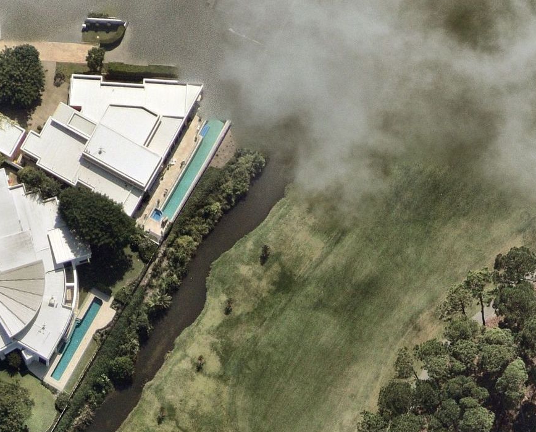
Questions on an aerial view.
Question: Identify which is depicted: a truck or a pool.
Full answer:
The image shows a pool.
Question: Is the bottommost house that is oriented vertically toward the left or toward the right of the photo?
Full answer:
The bottommost house that is oriented vertically is on the left side of the image.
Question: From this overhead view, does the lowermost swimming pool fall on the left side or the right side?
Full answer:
It is on the left.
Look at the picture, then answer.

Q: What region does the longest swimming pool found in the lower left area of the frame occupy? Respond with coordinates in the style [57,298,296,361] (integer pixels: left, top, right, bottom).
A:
[50,296,103,382]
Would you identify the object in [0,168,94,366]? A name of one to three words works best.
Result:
house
